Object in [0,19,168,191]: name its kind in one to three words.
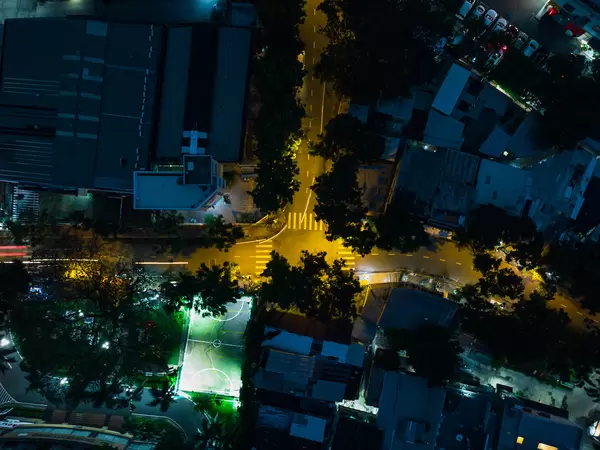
building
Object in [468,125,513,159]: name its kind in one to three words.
house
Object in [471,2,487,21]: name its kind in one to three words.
car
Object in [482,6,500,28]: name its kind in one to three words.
car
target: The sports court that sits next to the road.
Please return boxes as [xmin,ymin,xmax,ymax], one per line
[173,294,256,401]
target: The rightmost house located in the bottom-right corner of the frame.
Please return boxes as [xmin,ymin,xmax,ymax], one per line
[502,394,583,450]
